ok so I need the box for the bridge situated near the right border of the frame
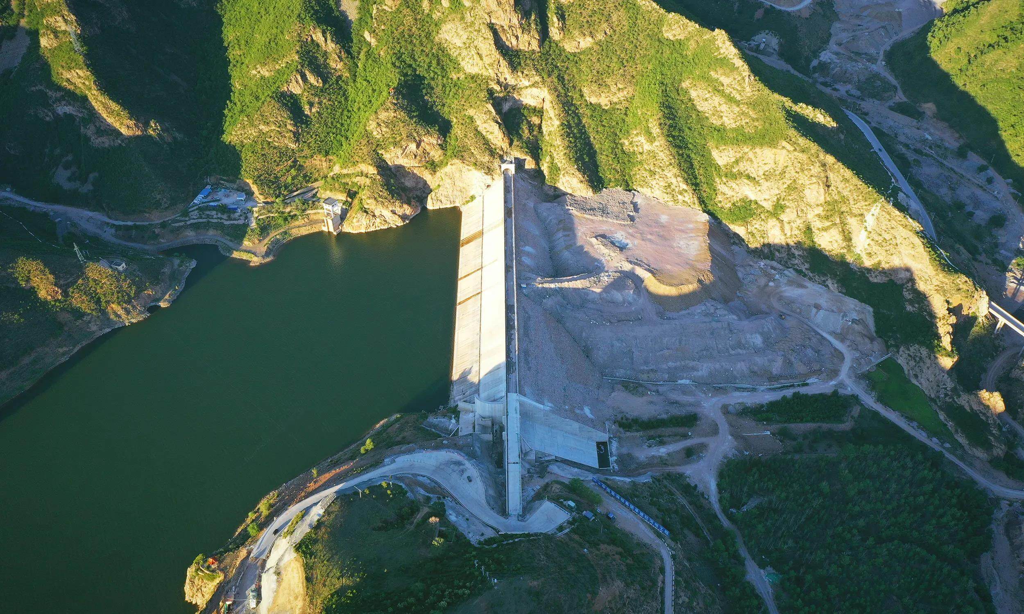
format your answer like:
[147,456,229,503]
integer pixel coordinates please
[982,302,1024,363]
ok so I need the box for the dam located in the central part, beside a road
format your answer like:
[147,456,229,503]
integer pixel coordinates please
[450,168,621,449]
